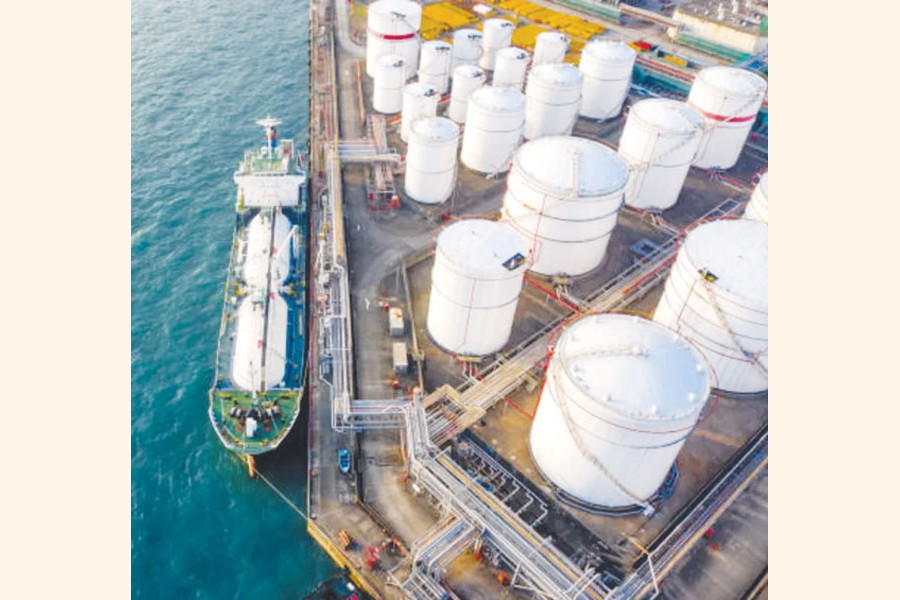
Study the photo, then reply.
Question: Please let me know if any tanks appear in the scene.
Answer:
Yes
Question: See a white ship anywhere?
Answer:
Yes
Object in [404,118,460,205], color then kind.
white storage tank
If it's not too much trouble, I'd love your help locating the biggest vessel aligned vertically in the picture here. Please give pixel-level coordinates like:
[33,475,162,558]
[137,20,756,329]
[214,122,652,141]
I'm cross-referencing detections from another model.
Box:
[209,111,309,478]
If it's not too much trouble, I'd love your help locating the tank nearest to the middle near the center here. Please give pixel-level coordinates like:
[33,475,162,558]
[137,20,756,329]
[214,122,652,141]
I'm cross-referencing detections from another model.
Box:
[427,222,531,358]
